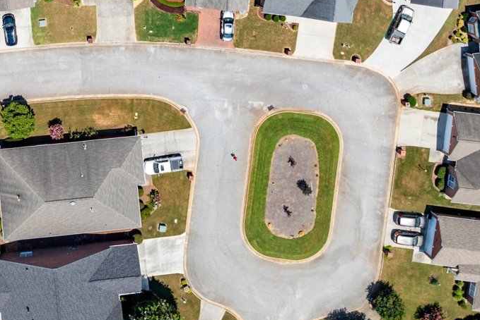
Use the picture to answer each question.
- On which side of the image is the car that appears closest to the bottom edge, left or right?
right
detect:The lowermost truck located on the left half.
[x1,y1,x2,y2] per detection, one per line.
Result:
[143,153,185,175]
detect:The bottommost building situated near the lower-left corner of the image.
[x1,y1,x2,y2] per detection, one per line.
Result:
[0,238,141,320]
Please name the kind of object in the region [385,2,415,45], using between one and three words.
truck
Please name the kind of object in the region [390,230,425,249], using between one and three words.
car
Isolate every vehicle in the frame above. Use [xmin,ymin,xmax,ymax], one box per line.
[143,153,185,175]
[220,11,236,43]
[385,2,415,45]
[390,230,425,249]
[391,211,426,231]
[1,14,18,47]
